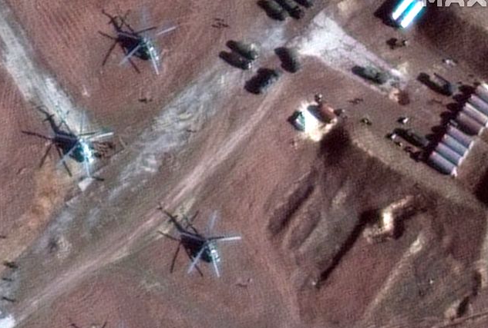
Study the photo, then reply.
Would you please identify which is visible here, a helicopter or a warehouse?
helicopter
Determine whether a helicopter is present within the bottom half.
Yes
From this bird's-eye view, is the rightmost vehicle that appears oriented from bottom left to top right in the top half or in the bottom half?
top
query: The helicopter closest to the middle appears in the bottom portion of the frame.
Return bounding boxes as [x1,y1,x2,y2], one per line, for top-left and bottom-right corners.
[174,209,241,273]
